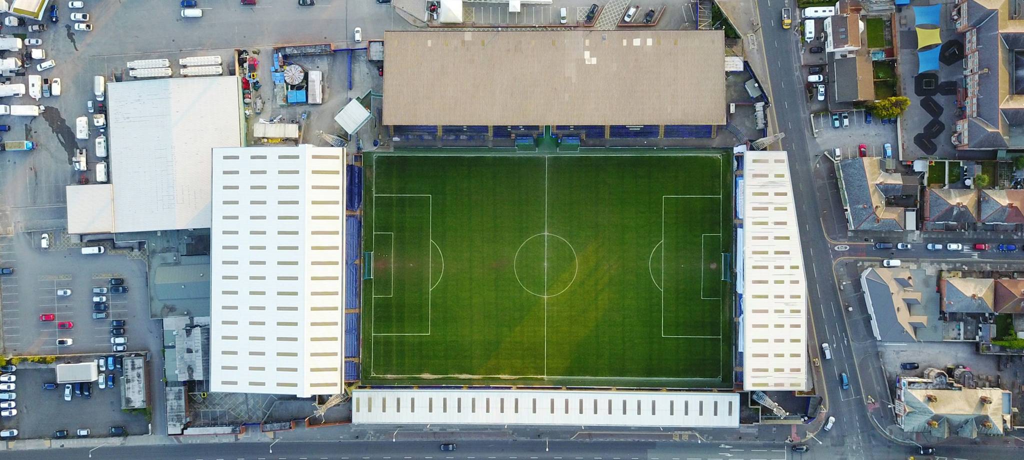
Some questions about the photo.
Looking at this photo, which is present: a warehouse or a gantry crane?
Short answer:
warehouse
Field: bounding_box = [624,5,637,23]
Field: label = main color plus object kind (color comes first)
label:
white vehicle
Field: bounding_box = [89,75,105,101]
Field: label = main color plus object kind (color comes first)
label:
white vehicle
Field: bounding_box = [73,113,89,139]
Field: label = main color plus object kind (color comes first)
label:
white camper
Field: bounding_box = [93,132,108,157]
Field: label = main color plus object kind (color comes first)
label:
white camper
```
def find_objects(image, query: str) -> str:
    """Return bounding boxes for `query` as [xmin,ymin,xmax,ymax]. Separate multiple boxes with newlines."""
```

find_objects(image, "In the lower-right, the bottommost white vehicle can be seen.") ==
[823,415,836,432]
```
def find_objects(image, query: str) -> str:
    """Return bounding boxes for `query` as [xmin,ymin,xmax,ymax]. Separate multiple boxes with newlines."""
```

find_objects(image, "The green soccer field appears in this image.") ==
[361,148,734,388]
